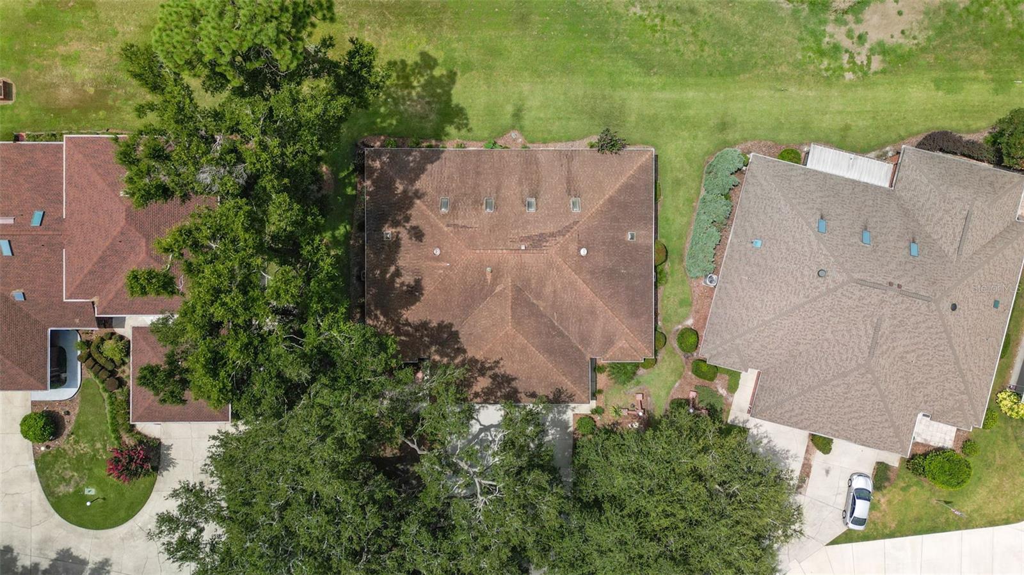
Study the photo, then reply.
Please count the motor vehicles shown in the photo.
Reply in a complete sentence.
In total, 1 motor vehicle can be seen.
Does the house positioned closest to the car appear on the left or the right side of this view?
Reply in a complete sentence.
It is on the right.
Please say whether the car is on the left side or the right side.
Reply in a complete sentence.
The car is on the right side of the image.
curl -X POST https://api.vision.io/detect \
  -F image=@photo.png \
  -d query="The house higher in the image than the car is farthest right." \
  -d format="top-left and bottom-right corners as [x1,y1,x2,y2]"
[698,140,1024,458]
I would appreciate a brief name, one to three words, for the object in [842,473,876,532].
car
